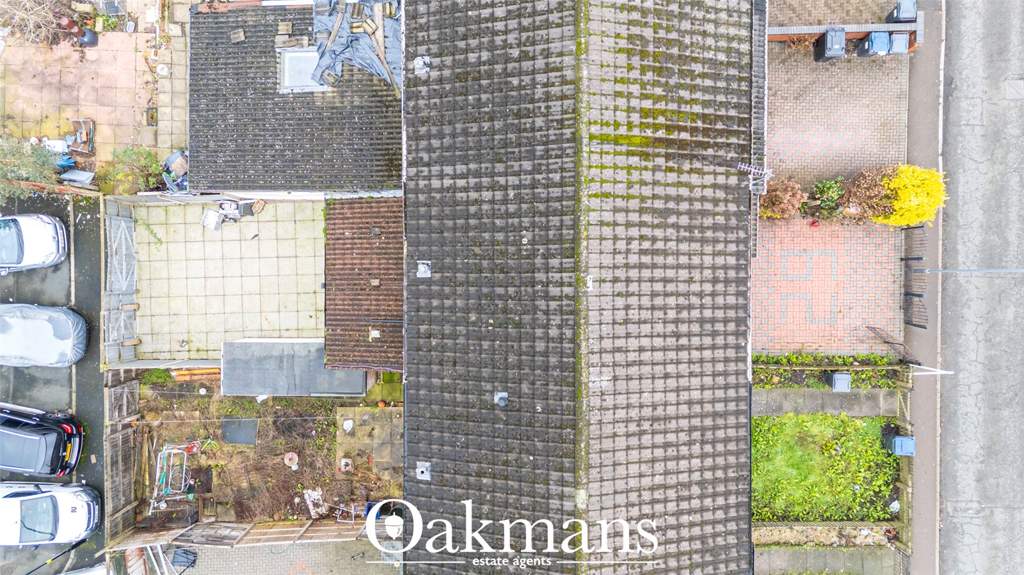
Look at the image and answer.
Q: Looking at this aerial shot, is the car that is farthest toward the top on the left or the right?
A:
left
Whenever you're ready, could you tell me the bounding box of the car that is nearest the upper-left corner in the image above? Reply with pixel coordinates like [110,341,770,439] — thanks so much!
[0,210,68,274]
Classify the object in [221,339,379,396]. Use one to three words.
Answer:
shed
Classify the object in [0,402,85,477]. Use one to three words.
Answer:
car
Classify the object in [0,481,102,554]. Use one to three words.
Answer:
car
